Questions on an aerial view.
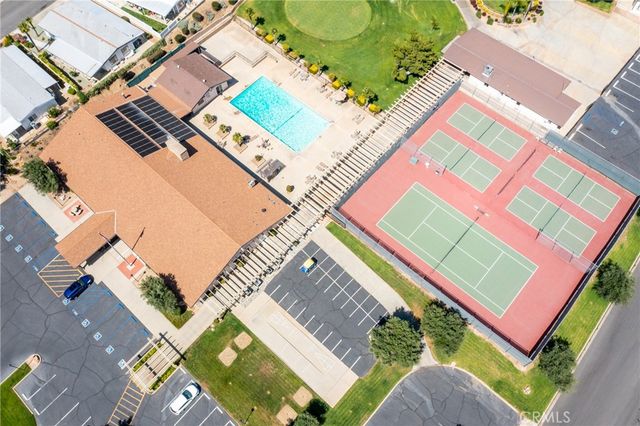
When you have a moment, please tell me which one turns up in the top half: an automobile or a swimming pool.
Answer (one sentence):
Visible in the top half is a swimming pool.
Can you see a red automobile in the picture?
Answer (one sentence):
No, no red automobile can be seen from above.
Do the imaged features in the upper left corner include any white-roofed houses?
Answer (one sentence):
Yes, looking in the upper left corner, one can make out a white-roofed house.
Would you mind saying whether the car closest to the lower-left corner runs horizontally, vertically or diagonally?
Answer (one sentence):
In this picture, the car closest to the lower-left corner is oriented diagonally.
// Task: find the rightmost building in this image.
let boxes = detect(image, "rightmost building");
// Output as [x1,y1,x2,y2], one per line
[439,29,579,131]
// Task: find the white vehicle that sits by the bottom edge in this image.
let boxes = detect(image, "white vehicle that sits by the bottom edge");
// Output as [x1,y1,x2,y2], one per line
[167,382,202,417]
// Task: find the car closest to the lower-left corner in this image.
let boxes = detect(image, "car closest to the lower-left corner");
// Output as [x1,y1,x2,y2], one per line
[60,274,94,302]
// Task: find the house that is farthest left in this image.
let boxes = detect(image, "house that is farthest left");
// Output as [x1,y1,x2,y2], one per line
[0,43,62,145]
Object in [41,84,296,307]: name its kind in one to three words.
building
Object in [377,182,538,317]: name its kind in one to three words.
tennis court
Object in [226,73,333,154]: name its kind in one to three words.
swimming pool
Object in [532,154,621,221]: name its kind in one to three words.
sports court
